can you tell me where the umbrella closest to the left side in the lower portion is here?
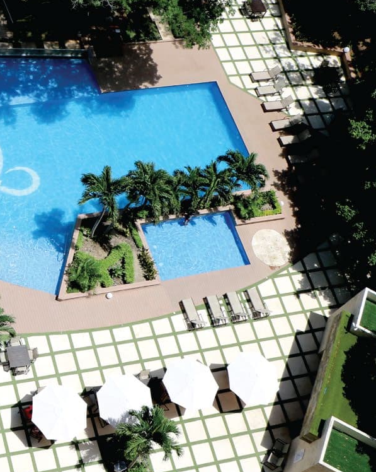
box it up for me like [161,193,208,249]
[27,387,85,444]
